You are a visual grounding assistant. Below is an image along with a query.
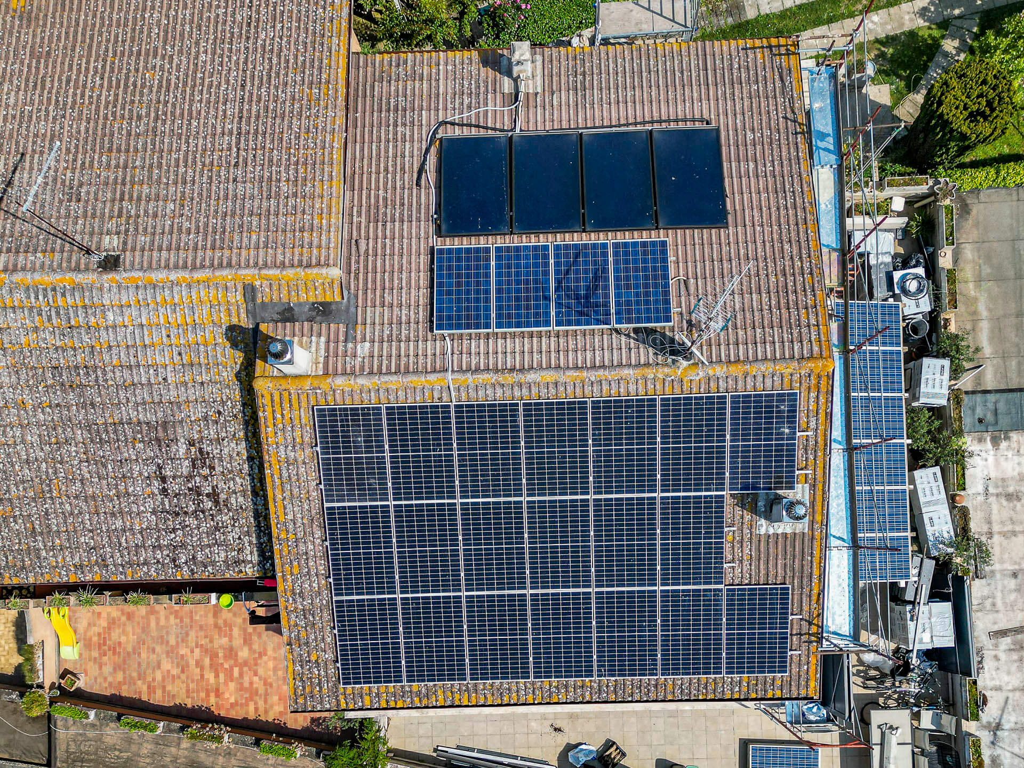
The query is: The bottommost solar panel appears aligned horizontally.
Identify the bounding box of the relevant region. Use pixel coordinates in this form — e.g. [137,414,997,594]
[748,744,821,768]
